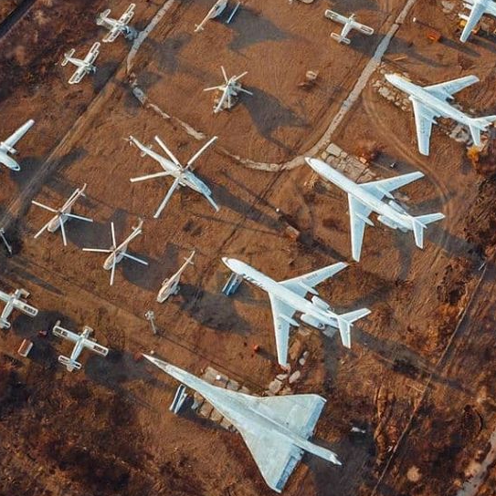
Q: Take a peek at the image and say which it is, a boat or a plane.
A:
plane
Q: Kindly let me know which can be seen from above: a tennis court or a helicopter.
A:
helicopter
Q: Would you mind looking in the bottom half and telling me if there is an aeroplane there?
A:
Yes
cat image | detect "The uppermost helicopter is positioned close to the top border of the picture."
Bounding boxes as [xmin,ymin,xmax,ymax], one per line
[198,0,233,30]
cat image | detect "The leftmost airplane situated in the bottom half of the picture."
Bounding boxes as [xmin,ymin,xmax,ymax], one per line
[0,290,41,331]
